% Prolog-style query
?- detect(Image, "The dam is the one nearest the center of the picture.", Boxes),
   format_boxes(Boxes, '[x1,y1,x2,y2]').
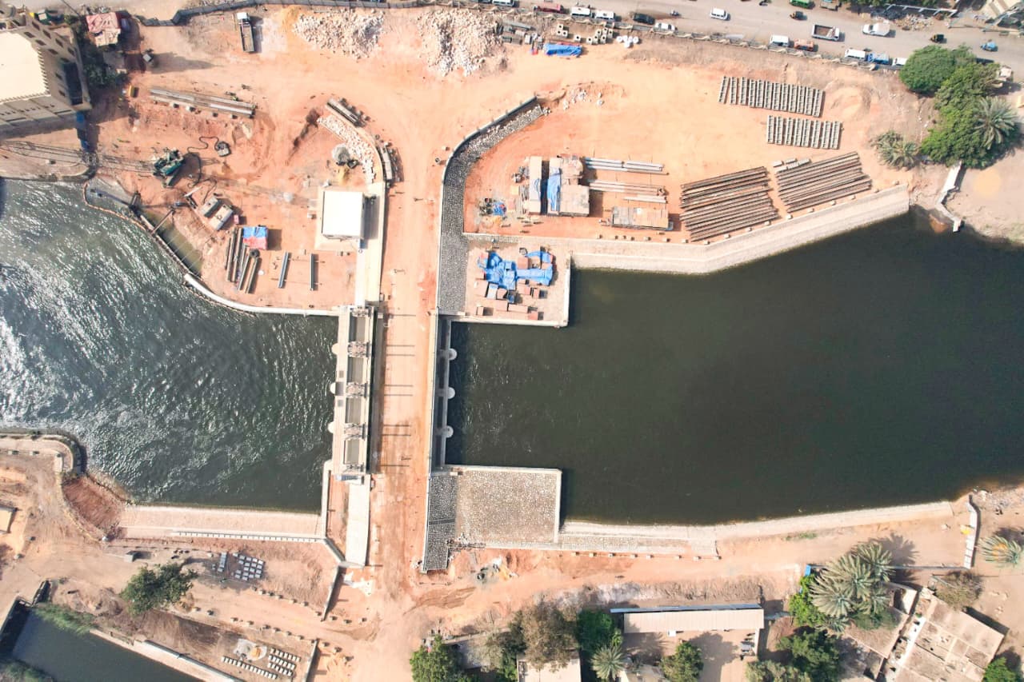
[327,306,458,483]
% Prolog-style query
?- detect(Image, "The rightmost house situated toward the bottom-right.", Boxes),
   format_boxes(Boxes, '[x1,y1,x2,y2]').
[875,592,1006,682]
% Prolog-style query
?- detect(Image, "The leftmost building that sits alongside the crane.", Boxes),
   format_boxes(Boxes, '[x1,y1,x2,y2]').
[0,4,91,128]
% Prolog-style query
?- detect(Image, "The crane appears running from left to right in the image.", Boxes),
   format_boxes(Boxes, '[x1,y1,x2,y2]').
[0,137,187,181]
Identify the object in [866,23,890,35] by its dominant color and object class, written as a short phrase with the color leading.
white vehicle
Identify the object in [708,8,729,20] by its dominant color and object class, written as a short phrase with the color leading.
white vehicle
